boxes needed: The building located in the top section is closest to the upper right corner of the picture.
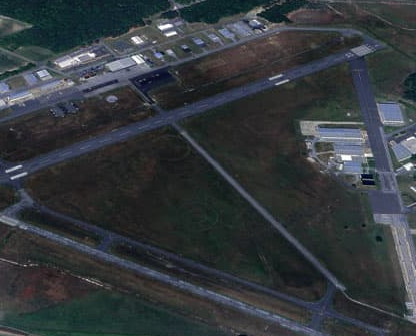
[379,102,407,123]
